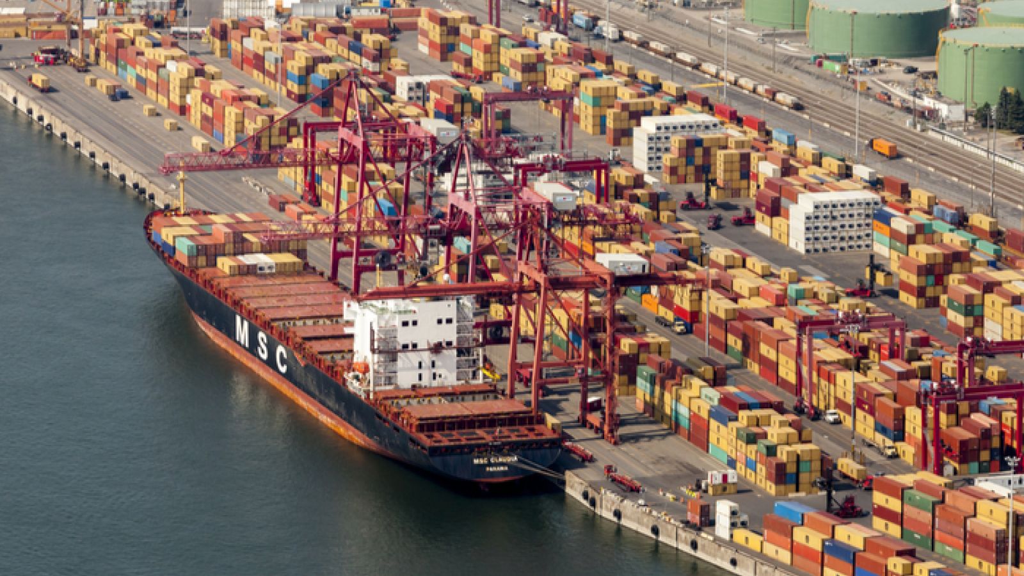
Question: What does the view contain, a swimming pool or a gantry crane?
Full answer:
The one in the frame is a gantry crane.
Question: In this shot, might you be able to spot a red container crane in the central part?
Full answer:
Yes, the scene does show a red container crane in the central part.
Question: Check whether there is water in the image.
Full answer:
Yes, water can be seen from above here.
